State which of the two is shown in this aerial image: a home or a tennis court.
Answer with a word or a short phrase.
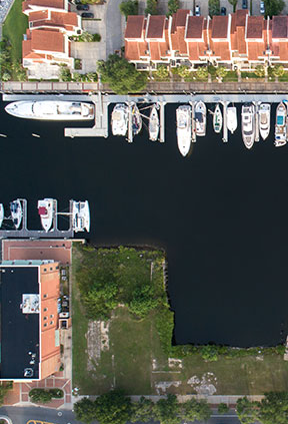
home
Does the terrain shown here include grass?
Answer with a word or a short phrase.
Yes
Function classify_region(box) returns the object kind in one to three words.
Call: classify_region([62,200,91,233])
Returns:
boat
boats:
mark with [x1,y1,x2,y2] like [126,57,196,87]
[194,101,208,137]
[275,101,288,142]
[176,106,194,157]
[62,200,91,233]
[142,103,161,143]
[0,200,24,230]
[128,105,144,136]
[38,201,55,233]
[273,141,287,147]
[112,103,130,137]
[259,105,272,142]
[4,100,95,124]
[241,104,256,149]
[213,103,224,134]
[0,204,7,228]
[226,107,239,133]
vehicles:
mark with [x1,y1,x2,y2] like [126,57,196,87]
[241,0,248,10]
[195,4,200,16]
[81,12,94,18]
[76,3,89,10]
[220,5,226,16]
